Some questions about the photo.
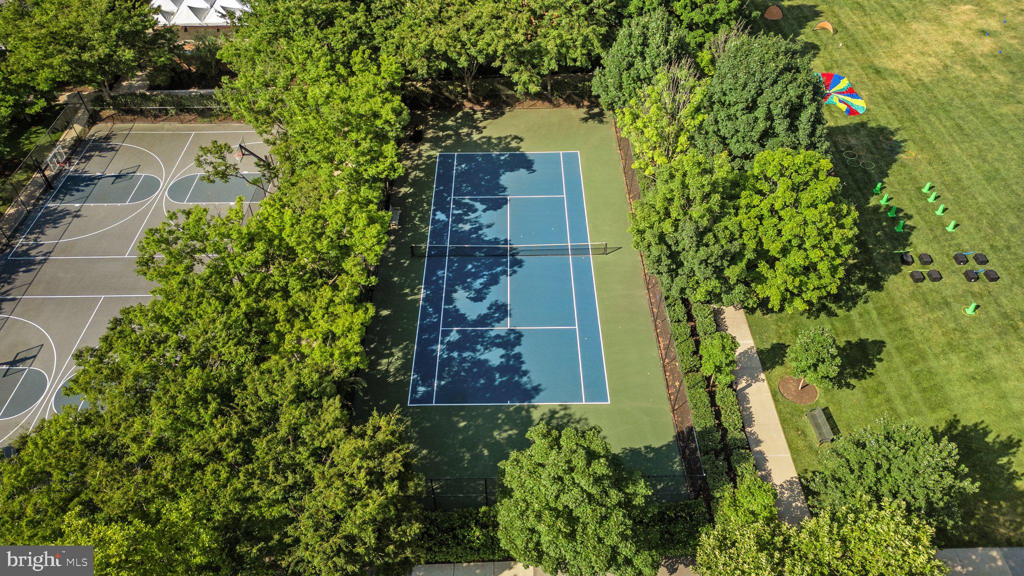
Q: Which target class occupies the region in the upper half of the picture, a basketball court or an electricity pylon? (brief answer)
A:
basketball court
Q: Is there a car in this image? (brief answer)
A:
No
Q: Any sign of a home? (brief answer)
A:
No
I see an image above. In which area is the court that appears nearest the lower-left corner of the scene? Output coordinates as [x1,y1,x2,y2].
[0,275,226,529]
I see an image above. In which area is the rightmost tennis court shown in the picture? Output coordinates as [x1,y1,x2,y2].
[333,107,689,504]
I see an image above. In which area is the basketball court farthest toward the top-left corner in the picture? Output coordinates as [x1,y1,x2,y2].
[0,123,300,277]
